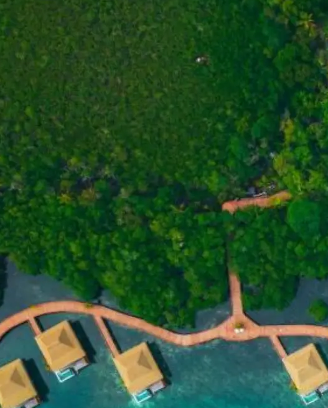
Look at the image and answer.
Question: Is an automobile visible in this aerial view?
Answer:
No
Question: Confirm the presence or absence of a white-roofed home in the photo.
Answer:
No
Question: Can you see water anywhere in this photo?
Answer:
Yes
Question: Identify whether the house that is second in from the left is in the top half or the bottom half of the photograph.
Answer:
bottom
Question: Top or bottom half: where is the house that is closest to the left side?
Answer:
bottom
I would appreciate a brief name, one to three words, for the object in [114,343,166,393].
house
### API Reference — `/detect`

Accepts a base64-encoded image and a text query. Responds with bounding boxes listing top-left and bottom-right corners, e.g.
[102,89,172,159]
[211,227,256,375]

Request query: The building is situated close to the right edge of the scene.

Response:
[282,344,328,394]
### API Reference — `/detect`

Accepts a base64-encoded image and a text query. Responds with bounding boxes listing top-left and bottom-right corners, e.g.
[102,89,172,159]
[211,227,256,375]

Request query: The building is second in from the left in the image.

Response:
[36,322,90,373]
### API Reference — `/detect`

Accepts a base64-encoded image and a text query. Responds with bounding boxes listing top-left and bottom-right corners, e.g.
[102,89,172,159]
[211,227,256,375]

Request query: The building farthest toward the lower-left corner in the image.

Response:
[0,359,42,408]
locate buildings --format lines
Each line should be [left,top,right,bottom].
[36,322,90,373]
[282,344,328,394]
[0,359,42,408]
[114,343,166,393]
